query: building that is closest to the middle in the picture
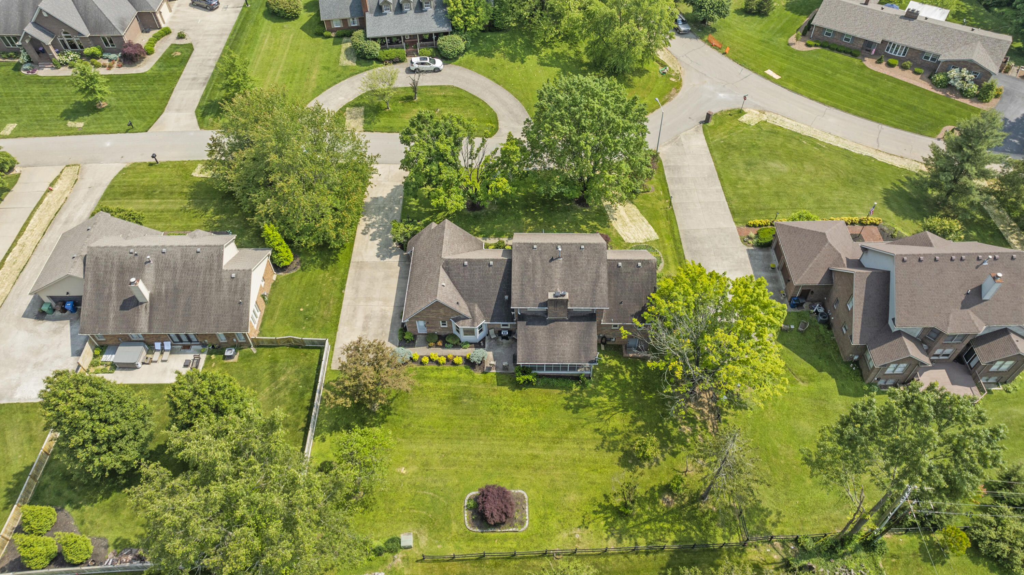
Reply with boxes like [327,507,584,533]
[401,219,657,376]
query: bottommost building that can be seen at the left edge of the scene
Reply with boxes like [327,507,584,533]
[28,212,277,347]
